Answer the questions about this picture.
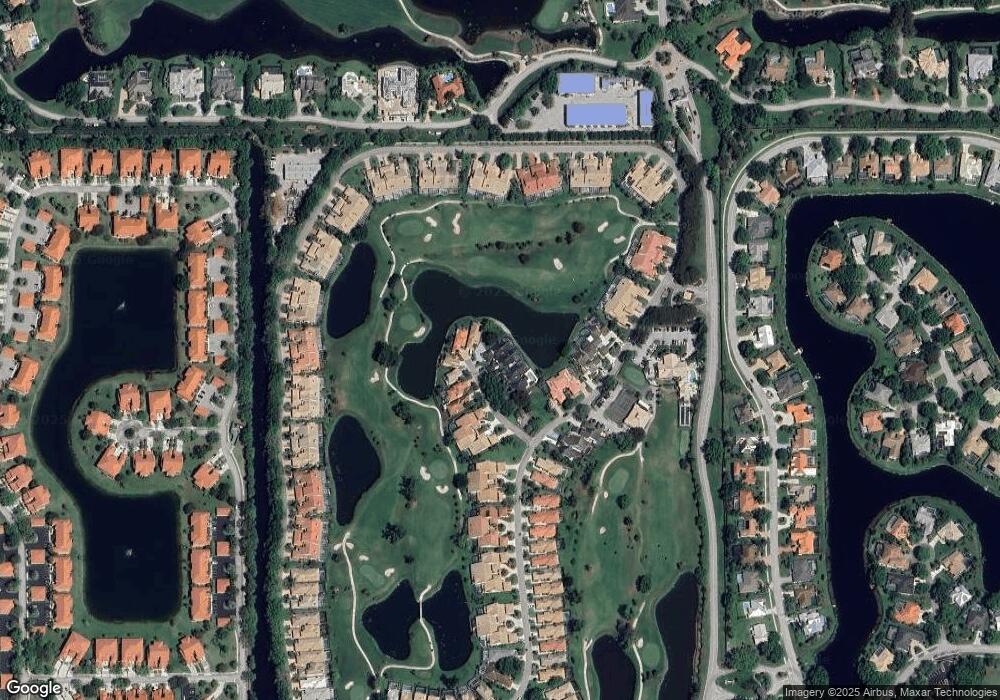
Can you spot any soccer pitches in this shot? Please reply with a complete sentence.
No, I can see no soccer pitch in this picture.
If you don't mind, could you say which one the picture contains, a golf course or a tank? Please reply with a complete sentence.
Looking from above, you can make out a golf course.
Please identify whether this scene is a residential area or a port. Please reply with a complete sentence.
What you see here is a residential area.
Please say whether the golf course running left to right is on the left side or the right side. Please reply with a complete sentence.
The golf course running left to right is on the left side of the image.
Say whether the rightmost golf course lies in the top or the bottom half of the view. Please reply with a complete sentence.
The bottom half of the photo is where the rightmost golf course is.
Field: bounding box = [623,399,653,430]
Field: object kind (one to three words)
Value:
building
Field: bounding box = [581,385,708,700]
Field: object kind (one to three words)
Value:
golf course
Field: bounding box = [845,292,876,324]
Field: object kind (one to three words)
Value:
house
